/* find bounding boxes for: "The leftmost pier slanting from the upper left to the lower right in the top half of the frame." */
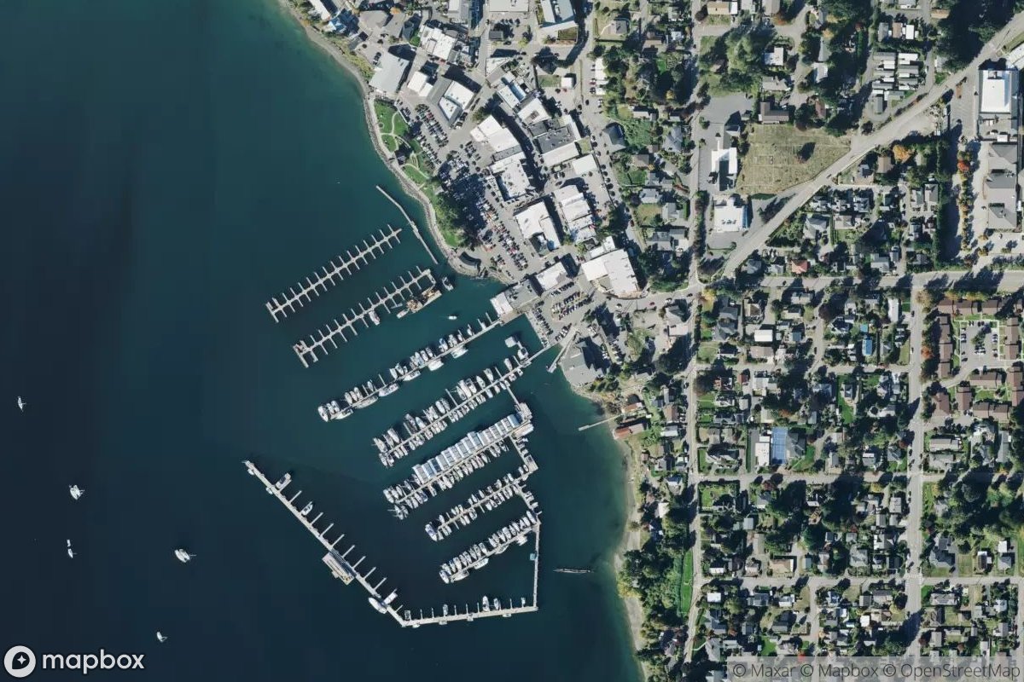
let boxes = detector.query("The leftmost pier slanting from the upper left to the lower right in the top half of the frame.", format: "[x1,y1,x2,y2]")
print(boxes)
[376,185,438,264]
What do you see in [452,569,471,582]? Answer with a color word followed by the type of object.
white boat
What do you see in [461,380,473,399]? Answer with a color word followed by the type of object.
white boat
